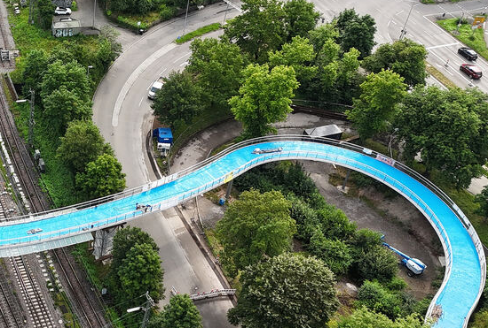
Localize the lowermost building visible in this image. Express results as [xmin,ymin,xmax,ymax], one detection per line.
[53,16,87,37]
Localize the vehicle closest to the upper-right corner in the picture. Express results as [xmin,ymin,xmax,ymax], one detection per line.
[455,44,481,60]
